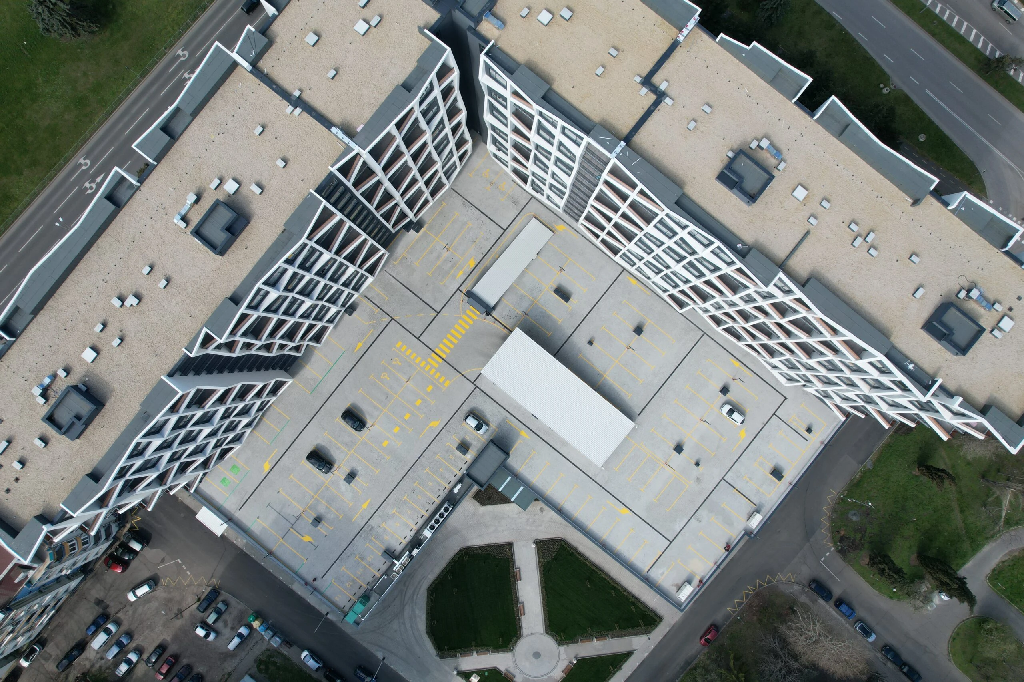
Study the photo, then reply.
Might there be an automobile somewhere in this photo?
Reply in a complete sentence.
Yes, this view includes an automobile.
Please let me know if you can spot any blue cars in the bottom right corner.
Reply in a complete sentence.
Yes, a blue car can be seen in the bottom right corner.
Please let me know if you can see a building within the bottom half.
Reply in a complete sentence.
Yes, a building appears within the bottom half.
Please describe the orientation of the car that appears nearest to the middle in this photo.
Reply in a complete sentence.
The car that appears nearest to the middle has been laid out on a diagonal relative to the frame.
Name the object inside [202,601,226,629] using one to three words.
car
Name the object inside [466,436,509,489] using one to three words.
house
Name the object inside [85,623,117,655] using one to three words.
vehicle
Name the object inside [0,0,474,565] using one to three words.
building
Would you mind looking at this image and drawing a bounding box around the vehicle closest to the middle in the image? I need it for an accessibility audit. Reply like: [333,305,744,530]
[462,412,489,436]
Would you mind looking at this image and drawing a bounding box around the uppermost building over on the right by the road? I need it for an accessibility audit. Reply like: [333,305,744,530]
[452,0,1024,456]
